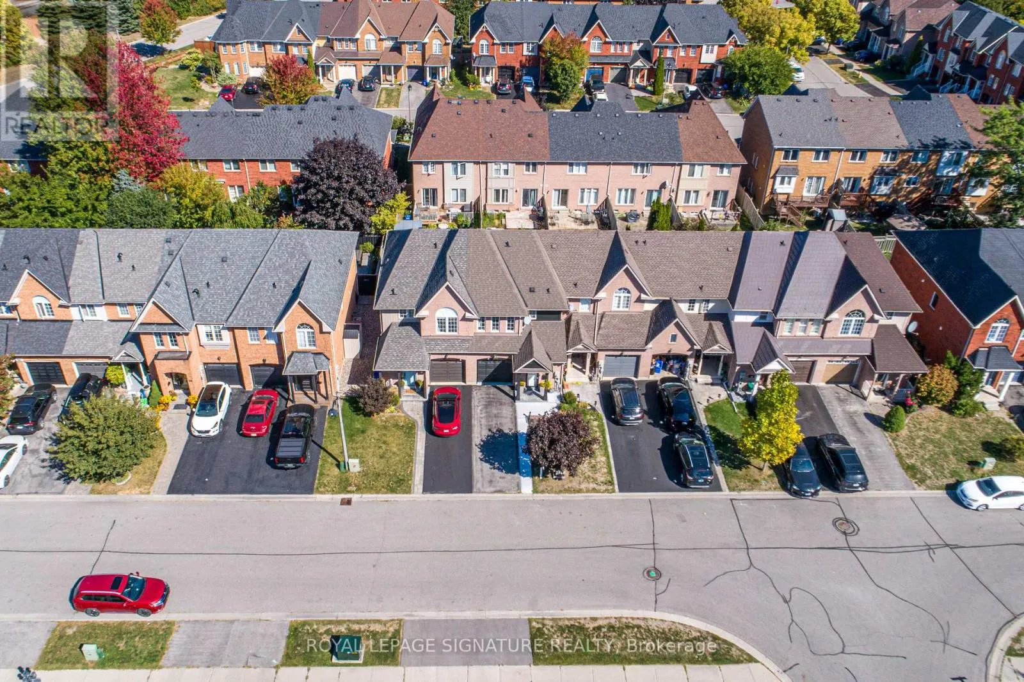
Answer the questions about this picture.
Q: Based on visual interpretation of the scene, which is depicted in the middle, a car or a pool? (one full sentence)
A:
The feature located in the middle is a car.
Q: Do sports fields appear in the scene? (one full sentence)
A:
No, this view has no sports field in it.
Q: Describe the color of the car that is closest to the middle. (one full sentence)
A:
In this view, the car that is closest to the middle is red.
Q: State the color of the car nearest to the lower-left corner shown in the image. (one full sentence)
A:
The car nearest to the lower-left corner looks red in the image.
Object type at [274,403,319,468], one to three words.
truck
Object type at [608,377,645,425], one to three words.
car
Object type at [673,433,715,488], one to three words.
car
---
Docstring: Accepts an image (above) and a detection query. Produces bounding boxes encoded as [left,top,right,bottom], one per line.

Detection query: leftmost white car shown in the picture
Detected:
[0,432,33,488]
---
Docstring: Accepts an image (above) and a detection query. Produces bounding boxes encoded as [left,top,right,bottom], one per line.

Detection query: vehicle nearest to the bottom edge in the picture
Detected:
[68,568,170,615]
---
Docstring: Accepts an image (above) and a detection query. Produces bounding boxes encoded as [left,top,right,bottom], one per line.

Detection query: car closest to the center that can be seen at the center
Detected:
[431,388,465,437]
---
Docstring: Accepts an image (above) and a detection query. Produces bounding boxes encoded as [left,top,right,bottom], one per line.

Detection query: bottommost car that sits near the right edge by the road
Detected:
[959,473,1024,509]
